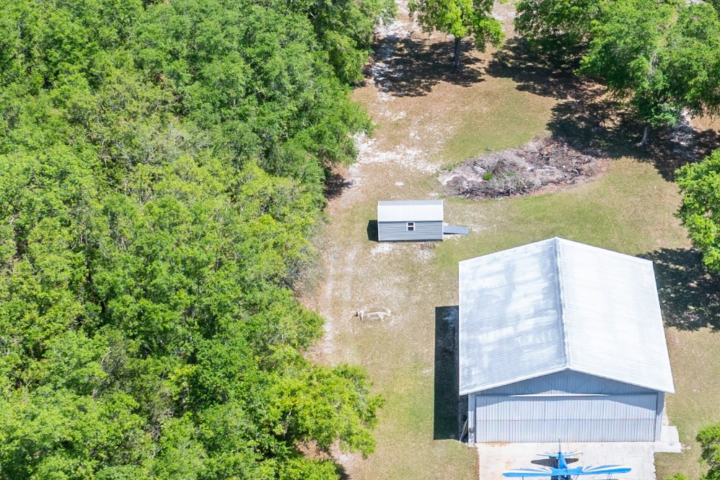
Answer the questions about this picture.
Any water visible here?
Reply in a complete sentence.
No, water can't be seen anywhere here.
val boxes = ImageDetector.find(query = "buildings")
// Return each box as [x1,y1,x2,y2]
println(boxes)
[458,237,674,443]
[377,202,468,240]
